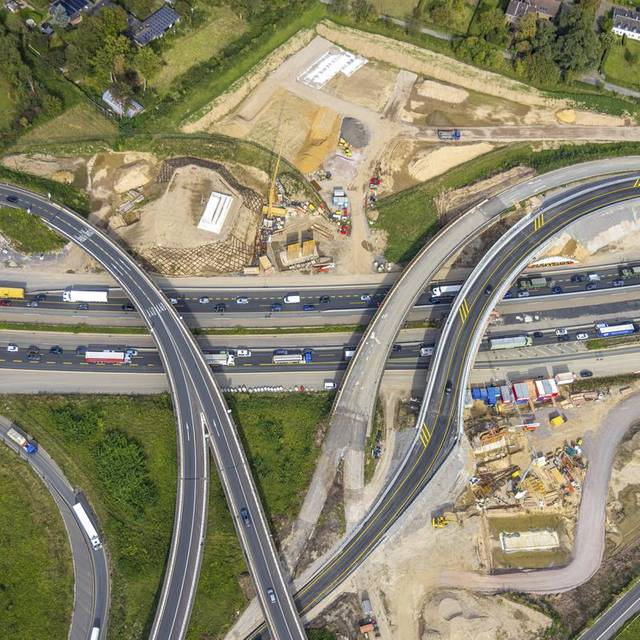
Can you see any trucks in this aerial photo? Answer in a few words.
Yes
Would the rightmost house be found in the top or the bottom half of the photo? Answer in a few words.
top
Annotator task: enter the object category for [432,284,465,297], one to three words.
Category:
vehicle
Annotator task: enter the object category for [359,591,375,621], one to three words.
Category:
vehicle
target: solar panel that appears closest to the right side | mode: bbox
[137,1,182,41]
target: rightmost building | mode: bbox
[608,9,640,41]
